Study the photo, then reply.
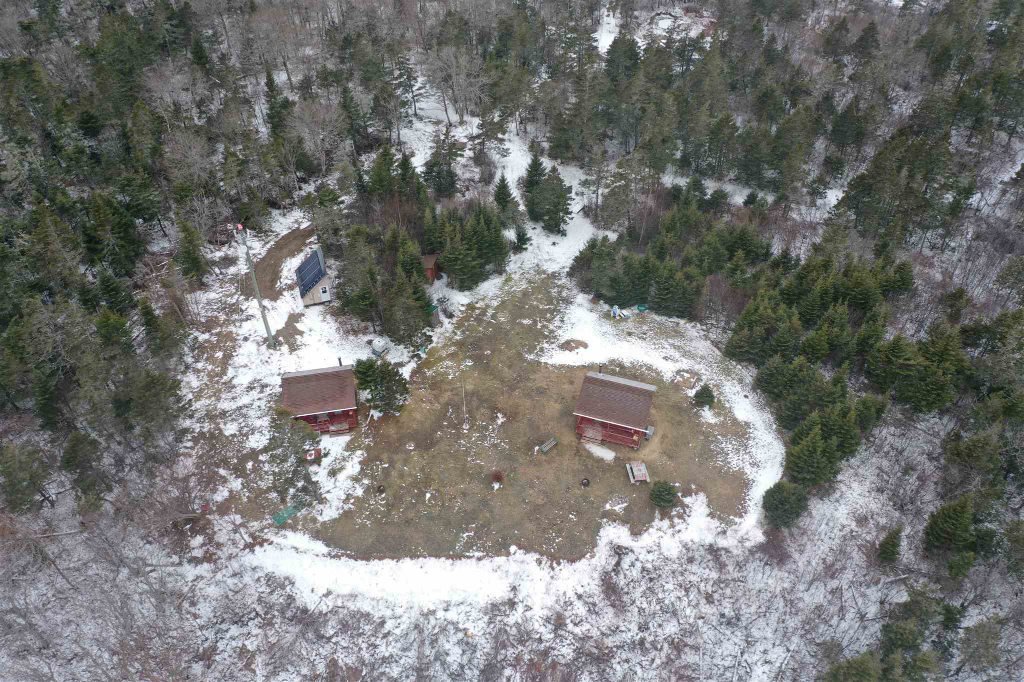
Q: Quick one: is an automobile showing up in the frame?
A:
No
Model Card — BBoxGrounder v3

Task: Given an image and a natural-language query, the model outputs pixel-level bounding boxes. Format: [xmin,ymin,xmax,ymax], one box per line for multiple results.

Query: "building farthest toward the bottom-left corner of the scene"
[279,359,359,440]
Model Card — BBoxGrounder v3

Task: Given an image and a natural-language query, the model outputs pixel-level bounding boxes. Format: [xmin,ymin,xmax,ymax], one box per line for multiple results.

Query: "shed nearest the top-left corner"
[296,244,333,305]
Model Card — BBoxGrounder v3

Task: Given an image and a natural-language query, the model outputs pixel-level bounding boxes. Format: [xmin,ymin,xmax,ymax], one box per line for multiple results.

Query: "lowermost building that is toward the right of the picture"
[572,367,658,450]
